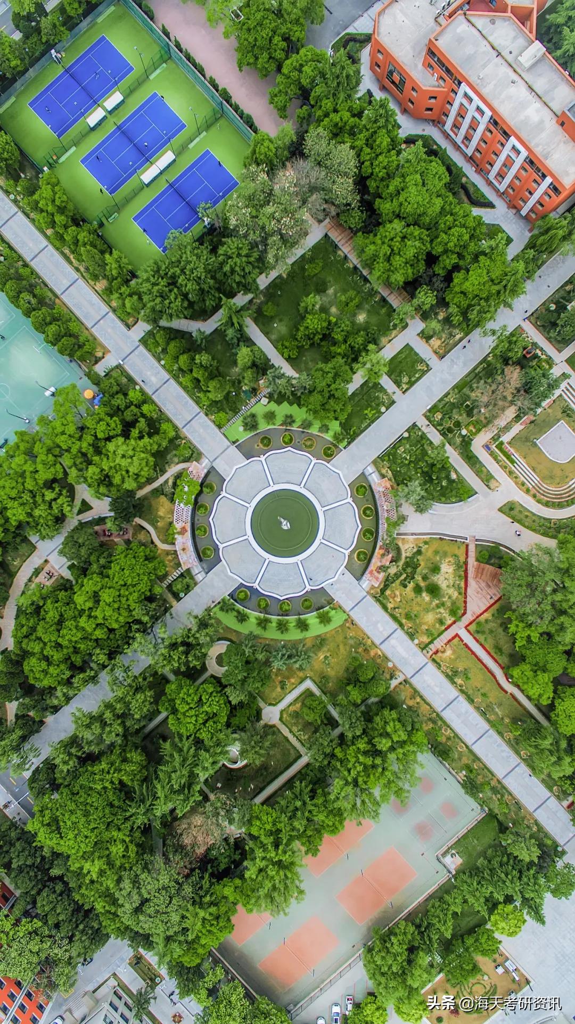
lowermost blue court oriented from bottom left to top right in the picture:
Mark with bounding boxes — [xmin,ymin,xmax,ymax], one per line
[133,150,235,253]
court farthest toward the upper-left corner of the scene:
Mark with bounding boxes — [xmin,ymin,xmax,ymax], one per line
[28,34,134,138]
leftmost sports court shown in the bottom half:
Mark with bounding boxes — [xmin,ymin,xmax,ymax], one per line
[229,895,271,947]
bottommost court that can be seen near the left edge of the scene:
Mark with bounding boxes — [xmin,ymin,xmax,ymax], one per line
[0,281,116,498]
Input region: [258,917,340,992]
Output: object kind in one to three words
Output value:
sports court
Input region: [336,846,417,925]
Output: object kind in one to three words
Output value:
sports court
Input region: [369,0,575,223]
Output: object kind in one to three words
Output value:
building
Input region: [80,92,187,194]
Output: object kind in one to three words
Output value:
tennis court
